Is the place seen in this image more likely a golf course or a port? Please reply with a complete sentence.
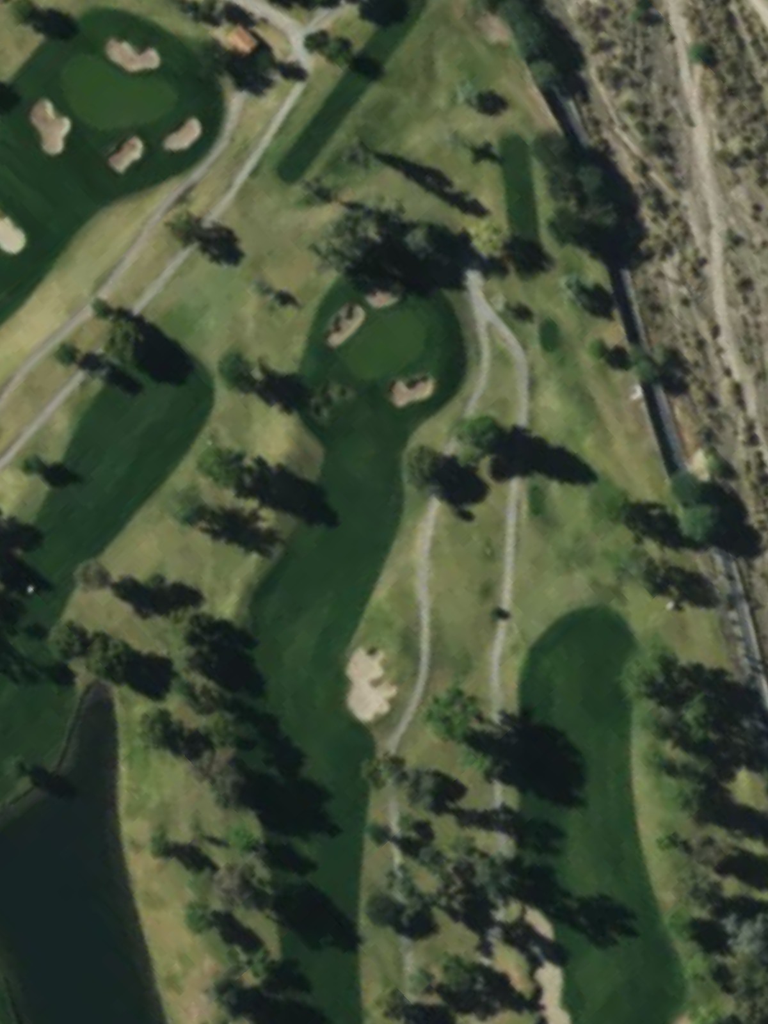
This image shows a golf course.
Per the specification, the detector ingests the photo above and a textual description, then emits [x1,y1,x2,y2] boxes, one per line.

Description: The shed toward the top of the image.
[228,24,257,53]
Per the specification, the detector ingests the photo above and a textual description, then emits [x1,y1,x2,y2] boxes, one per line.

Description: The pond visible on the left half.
[0,681,167,1024]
